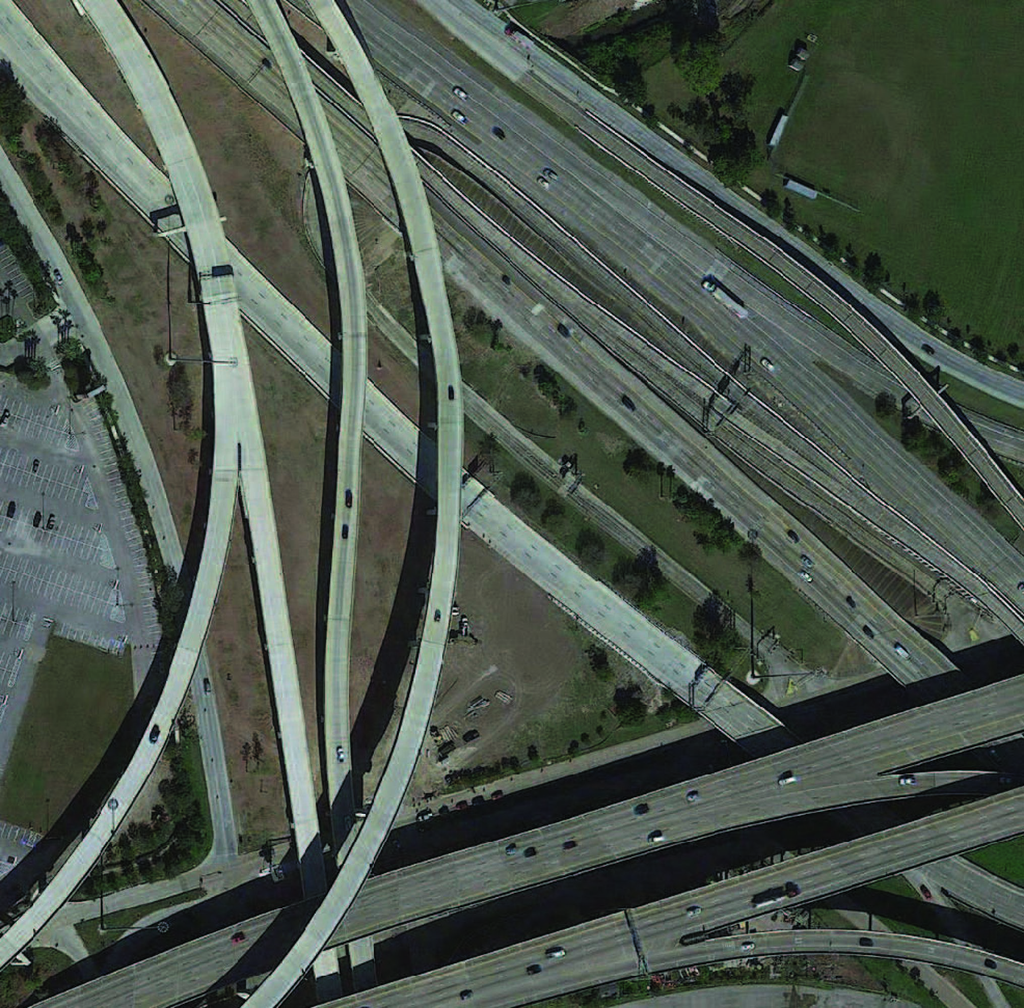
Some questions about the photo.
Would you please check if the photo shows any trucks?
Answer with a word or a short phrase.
Yes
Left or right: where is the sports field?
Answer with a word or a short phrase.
right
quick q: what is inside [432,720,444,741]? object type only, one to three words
vehicle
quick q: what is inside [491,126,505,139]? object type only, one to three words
vehicle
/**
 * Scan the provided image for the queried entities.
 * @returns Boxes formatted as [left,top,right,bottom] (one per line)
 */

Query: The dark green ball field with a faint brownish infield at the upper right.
[772,0,1024,330]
